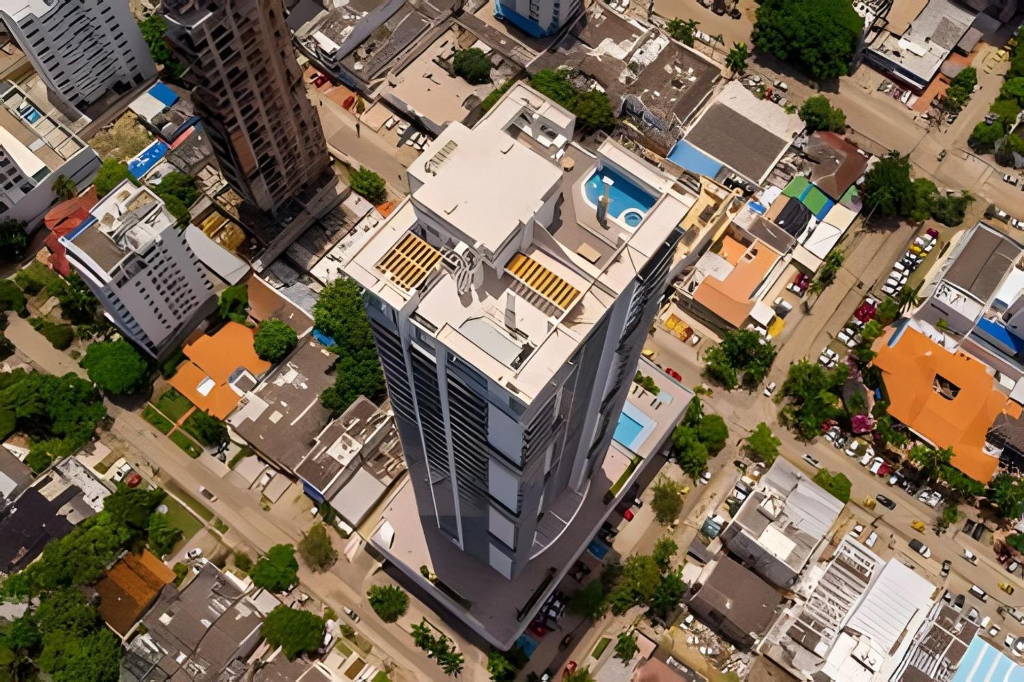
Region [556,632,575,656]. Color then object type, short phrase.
black car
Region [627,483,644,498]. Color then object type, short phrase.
black car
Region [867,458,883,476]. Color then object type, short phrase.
white car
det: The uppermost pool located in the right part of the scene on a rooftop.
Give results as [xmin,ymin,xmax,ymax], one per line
[583,163,659,227]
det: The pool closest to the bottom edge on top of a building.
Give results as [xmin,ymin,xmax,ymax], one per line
[616,413,644,448]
